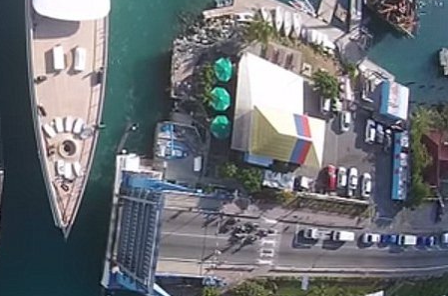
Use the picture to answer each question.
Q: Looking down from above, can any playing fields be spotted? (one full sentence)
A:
No, the photo shows no playing field.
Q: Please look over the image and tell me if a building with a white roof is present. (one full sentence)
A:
Yes, a building with a white roof appears in the view.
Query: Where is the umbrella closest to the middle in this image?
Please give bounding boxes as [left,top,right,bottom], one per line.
[210,117,231,137]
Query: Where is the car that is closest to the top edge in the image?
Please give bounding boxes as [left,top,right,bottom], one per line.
[320,96,332,112]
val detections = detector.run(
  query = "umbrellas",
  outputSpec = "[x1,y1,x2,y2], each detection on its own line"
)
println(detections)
[210,117,231,137]
[209,88,231,110]
[212,59,233,81]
